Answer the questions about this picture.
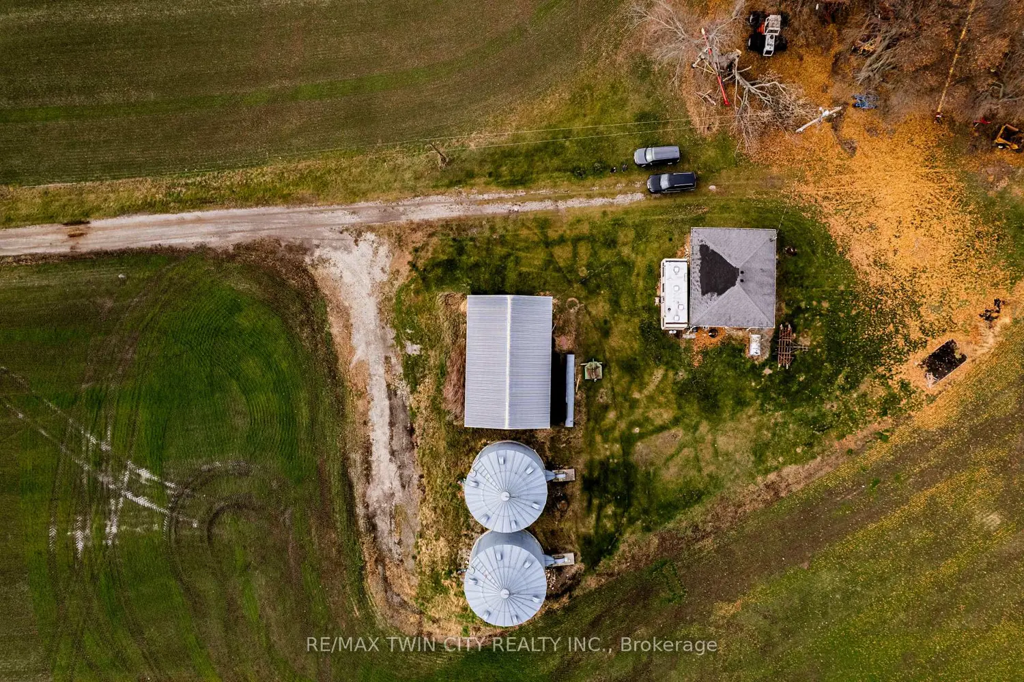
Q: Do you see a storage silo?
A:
Yes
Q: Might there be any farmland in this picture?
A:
Yes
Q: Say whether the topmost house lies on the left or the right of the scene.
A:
right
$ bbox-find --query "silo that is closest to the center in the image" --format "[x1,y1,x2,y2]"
[461,439,577,533]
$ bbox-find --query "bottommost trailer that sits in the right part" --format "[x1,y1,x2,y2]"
[650,260,688,340]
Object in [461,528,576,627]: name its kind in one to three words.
silo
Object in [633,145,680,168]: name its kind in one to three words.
car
